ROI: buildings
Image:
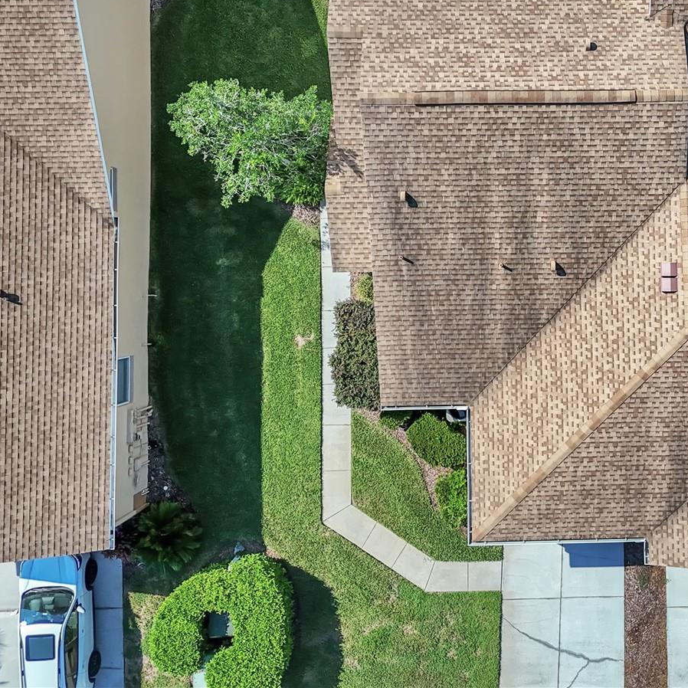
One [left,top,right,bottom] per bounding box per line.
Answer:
[323,0,688,560]
[0,0,156,562]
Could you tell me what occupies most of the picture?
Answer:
buildings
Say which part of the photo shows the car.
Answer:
bottom left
